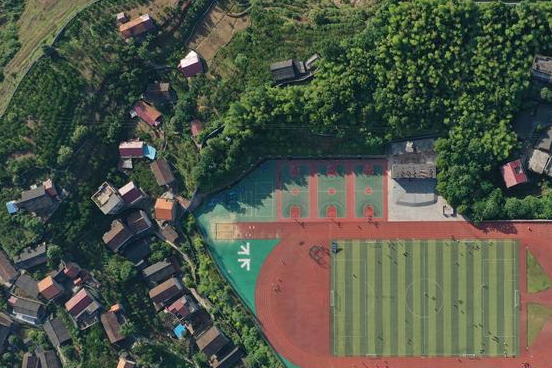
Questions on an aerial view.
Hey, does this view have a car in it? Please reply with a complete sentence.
No, I find no car anywhere in the image.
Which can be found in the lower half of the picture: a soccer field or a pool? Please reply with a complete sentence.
The feature located in the lower half of the picture is a soccer field.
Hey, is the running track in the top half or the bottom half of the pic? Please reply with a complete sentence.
The running track is in the bottom half of the image.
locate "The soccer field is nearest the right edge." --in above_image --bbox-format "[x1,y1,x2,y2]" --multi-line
[332,241,520,357]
